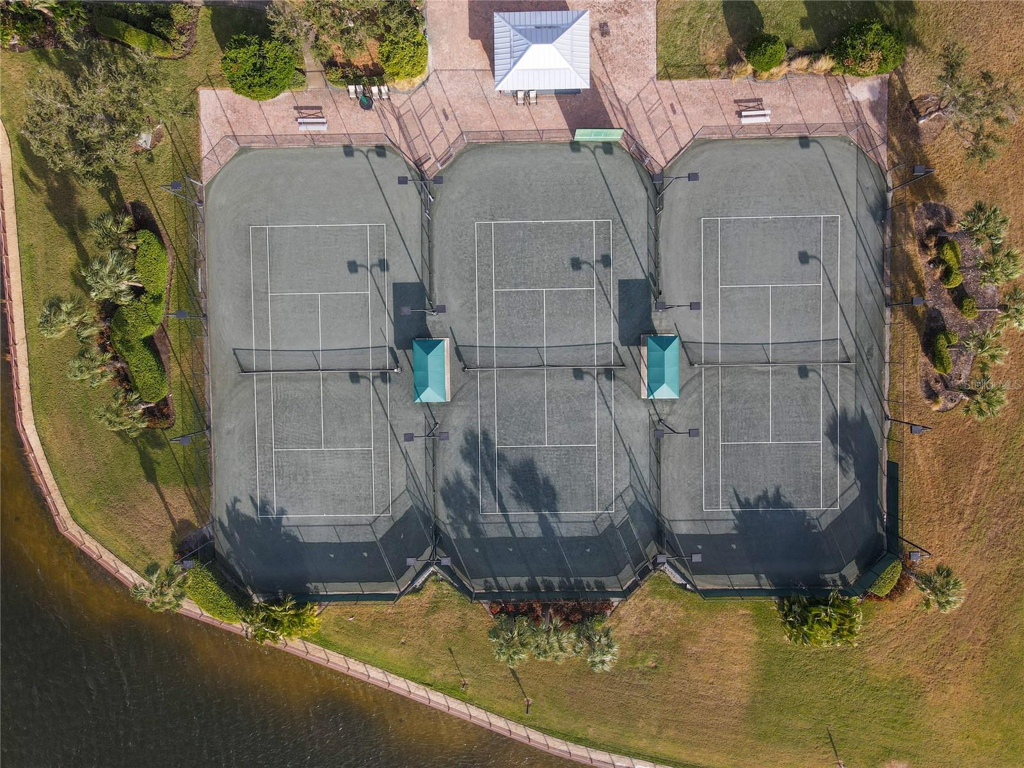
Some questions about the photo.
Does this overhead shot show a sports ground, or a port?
sports ground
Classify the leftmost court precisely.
tennis court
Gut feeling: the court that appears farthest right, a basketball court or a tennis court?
tennis court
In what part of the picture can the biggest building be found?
top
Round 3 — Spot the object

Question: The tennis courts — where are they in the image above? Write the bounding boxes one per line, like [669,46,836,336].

[203,143,436,593]
[660,134,888,587]
[426,141,662,591]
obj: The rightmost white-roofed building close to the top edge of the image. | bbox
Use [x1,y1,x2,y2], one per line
[493,10,590,96]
